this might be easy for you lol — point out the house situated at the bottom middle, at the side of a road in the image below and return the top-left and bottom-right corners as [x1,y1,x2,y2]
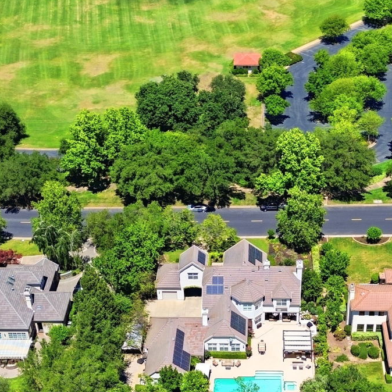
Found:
[147,242,304,385]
